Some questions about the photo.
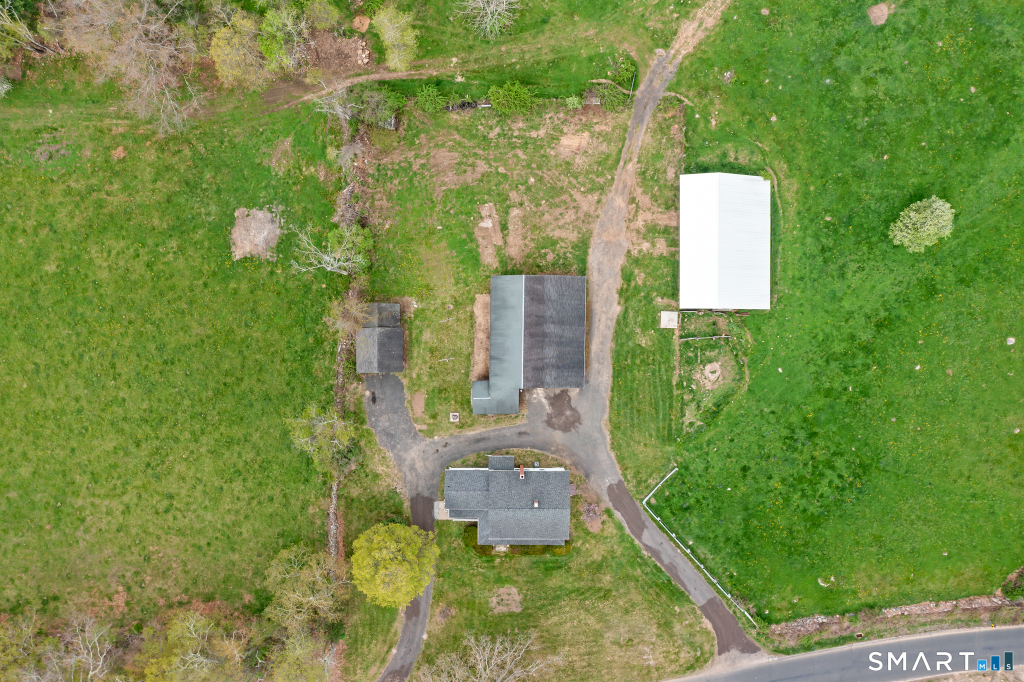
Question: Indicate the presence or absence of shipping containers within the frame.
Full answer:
No, I can't see a single shipping container in this photo.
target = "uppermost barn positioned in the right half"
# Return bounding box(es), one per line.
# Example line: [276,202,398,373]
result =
[675,172,771,309]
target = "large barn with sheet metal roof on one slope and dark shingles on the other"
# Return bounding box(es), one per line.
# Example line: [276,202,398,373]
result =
[472,275,587,414]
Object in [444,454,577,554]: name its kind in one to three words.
house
